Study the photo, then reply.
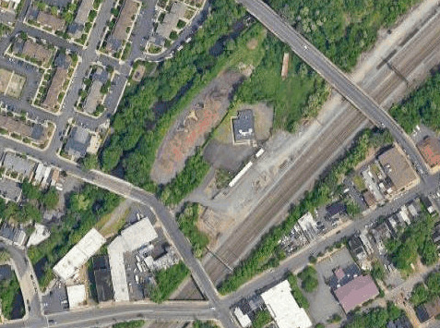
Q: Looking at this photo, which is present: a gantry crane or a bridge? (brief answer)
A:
bridge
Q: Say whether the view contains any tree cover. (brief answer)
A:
Yes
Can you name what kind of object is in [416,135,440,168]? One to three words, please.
building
